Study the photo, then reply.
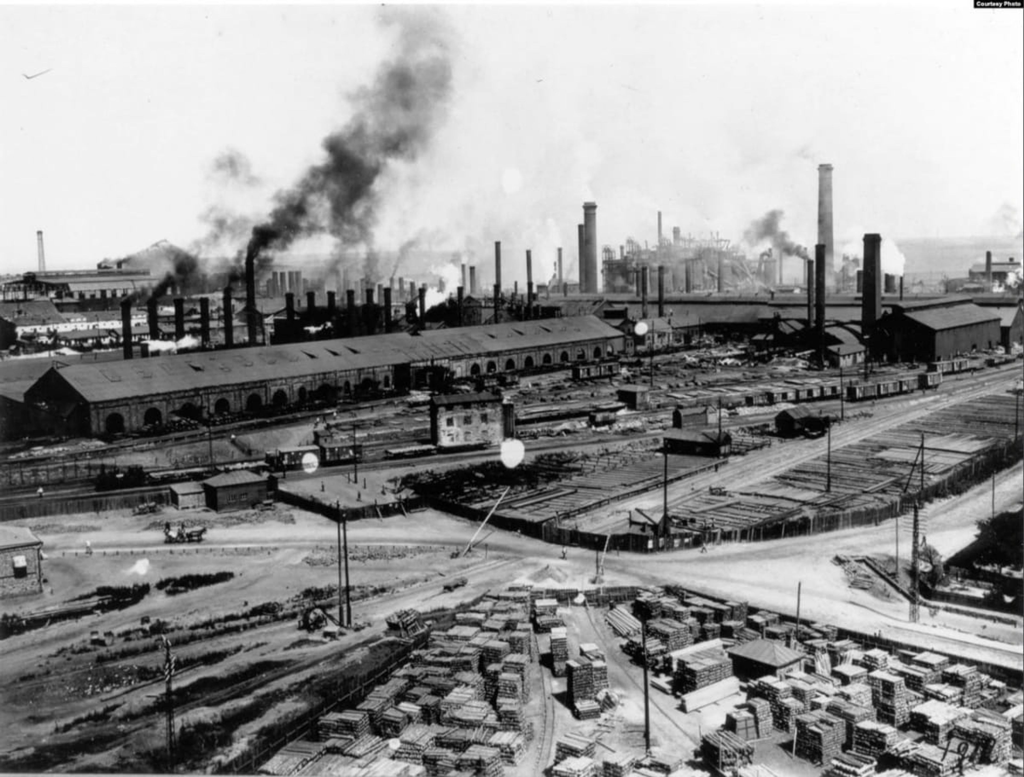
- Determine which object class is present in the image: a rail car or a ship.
rail car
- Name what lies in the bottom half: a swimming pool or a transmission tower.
transmission tower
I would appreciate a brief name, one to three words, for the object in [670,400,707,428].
house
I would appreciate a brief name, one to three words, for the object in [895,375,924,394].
rail car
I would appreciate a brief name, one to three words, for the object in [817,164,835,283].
chimney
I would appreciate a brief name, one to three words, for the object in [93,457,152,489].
rail car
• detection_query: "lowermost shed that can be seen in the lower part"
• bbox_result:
[726,641,809,690]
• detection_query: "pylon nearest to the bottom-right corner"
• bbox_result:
[900,501,929,623]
